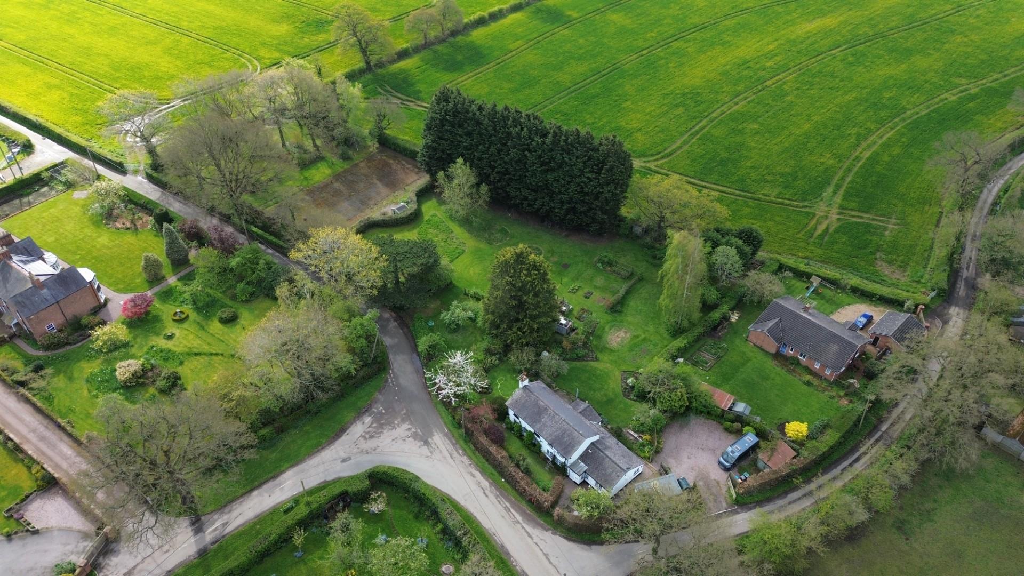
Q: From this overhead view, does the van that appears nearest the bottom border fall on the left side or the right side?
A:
right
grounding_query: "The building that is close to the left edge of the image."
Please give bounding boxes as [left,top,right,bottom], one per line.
[0,235,109,344]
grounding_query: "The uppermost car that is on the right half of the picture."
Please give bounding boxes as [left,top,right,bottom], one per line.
[854,307,876,327]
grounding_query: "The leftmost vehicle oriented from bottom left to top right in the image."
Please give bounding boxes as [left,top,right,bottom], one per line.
[718,426,765,466]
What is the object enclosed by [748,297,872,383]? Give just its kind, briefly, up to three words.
house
